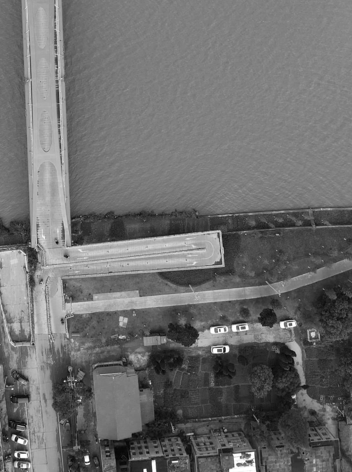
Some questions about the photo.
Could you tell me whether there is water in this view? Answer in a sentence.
Yes, there is water in the image.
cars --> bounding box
[11,434,29,446]
[14,450,29,459]
[10,421,27,431]
[82,452,91,467]
[91,453,100,472]
[211,344,229,354]
[279,319,297,329]
[210,325,228,333]
[12,370,29,386]
[13,460,31,470]
[231,323,249,332]
[11,394,30,404]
